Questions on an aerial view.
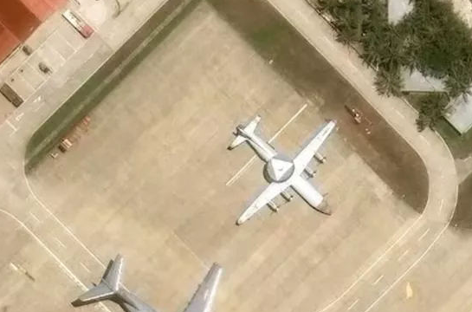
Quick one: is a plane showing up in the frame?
Yes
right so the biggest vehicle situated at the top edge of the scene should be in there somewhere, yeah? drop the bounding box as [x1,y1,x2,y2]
[62,8,94,37]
